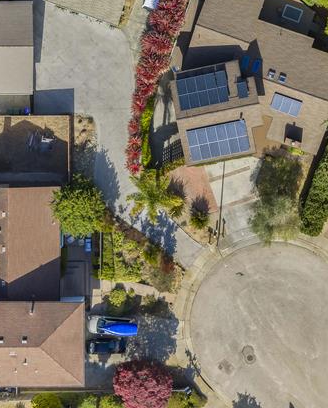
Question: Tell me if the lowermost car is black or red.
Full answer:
The lowermost car is black.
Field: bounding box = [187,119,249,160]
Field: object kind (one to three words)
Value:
solar array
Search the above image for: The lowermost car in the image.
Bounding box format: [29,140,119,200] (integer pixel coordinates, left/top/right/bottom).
[87,338,129,360]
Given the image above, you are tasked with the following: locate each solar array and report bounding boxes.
[187,119,249,160]
[176,71,229,110]
[271,93,302,117]
[238,81,249,98]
